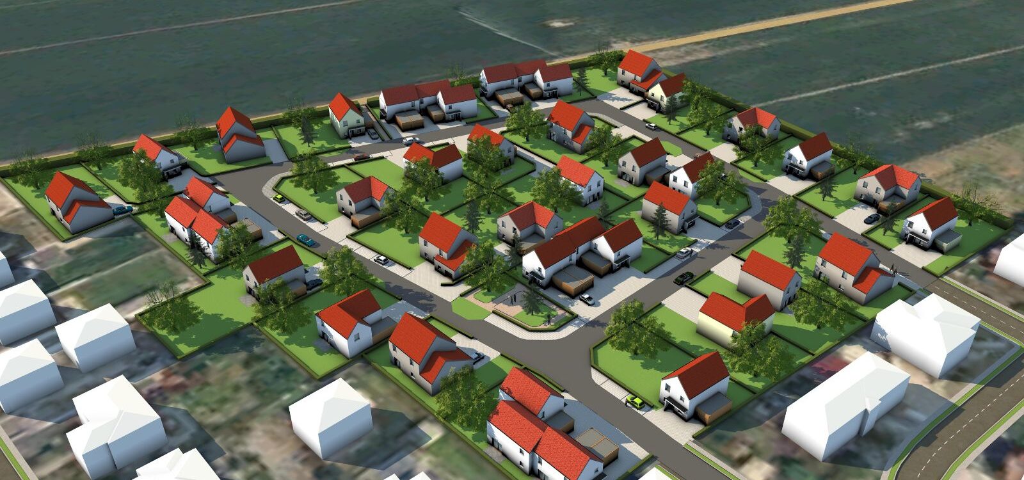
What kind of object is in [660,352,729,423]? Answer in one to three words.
house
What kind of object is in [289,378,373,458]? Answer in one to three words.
building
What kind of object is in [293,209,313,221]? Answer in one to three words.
vehicle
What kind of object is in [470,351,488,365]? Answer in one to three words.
car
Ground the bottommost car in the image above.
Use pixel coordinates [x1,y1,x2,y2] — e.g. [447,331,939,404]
[625,397,646,410]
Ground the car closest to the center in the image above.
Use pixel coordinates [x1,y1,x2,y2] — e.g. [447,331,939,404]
[578,293,596,306]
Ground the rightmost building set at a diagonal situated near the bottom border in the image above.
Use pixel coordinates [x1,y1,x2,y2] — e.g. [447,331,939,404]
[783,352,910,459]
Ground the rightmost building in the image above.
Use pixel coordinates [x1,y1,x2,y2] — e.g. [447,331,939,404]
[992,236,1024,288]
